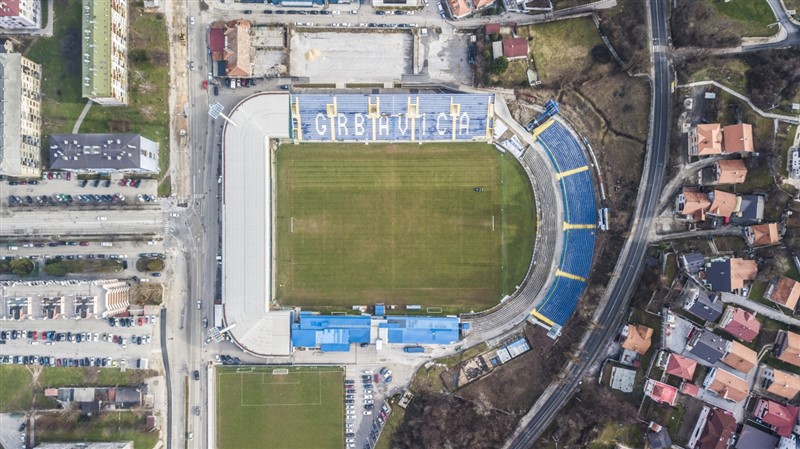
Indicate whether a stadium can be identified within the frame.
Yes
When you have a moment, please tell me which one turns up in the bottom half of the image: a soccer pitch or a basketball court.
soccer pitch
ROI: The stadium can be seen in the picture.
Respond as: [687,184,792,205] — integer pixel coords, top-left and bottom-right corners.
[220,75,597,358]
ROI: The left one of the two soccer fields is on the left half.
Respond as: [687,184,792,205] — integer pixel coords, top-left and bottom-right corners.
[217,366,345,449]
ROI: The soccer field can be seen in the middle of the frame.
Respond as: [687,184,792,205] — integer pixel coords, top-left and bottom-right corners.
[274,138,538,314]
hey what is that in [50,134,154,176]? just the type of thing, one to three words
building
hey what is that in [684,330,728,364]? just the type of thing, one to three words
house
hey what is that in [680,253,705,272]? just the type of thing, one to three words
house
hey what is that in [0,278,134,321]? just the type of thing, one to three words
building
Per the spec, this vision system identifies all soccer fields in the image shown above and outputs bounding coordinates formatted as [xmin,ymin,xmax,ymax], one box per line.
[217,366,345,449]
[274,138,538,314]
